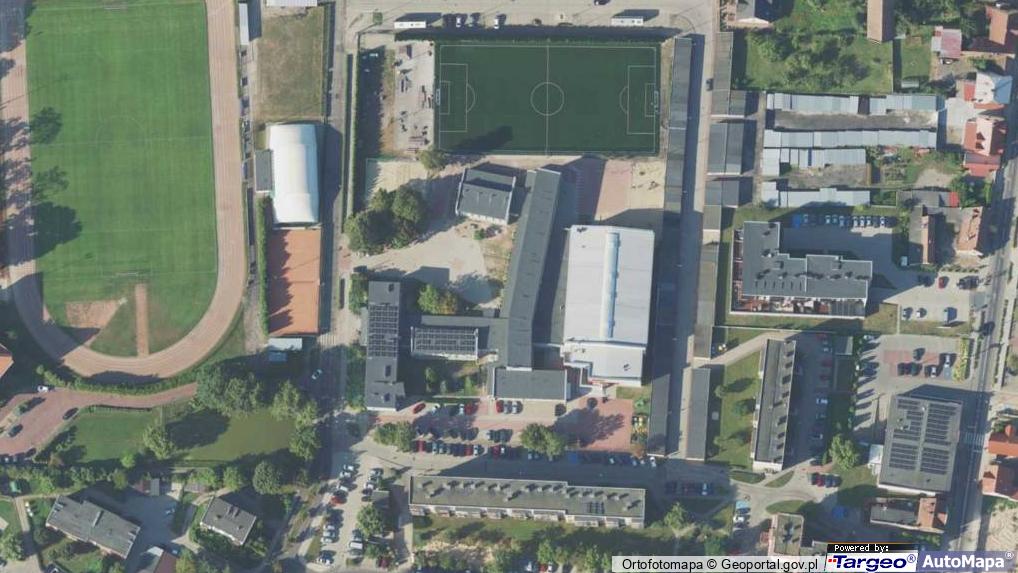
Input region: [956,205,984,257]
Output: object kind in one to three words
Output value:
house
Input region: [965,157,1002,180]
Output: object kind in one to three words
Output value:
shed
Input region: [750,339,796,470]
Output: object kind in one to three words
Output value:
building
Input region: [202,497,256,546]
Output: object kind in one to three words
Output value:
house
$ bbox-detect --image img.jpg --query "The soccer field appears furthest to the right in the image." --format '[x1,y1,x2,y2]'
[434,42,659,154]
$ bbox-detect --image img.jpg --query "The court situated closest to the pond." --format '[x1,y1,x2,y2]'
[268,228,320,334]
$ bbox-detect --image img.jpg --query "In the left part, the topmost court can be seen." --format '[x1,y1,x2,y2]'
[364,156,427,214]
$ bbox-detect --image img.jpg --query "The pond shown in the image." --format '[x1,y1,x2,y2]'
[158,409,297,464]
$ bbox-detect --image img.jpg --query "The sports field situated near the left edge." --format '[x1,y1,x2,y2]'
[26,0,217,358]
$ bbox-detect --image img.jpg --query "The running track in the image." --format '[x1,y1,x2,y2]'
[0,0,245,386]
